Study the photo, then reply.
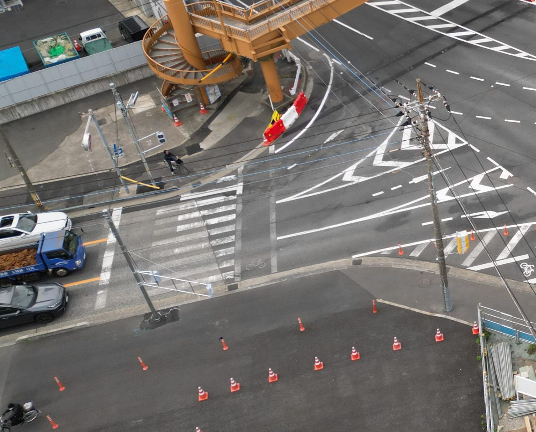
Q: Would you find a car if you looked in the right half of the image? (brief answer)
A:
No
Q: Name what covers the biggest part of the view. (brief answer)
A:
paved ground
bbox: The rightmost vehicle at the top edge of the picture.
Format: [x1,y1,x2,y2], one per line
[116,3,148,40]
